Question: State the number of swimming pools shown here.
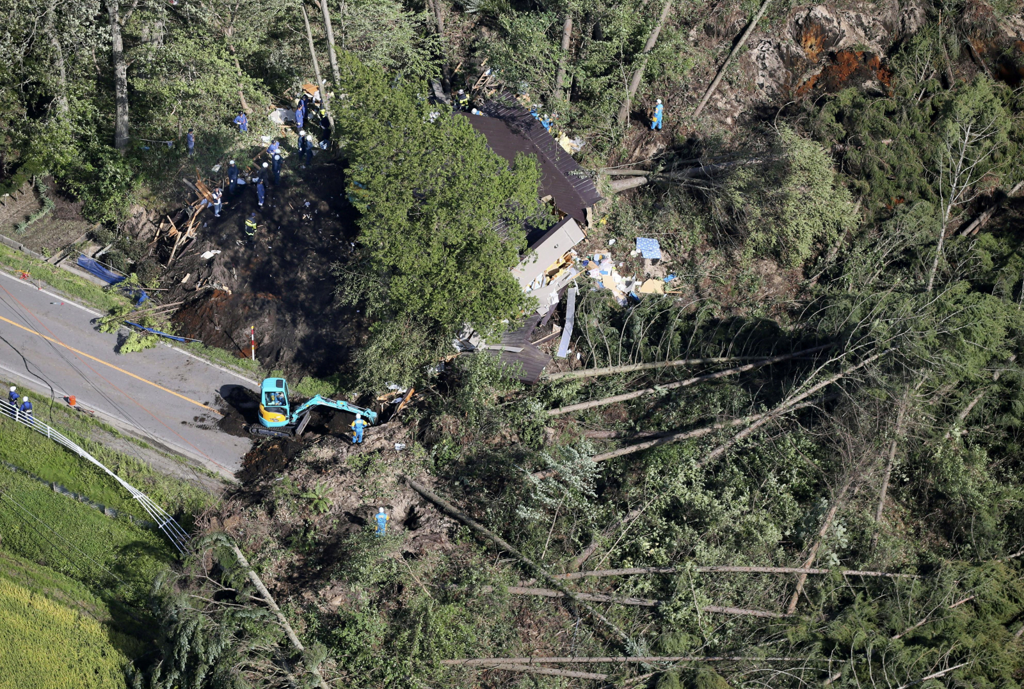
0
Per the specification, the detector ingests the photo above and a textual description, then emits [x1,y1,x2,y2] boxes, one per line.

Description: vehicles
[245,373,377,443]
